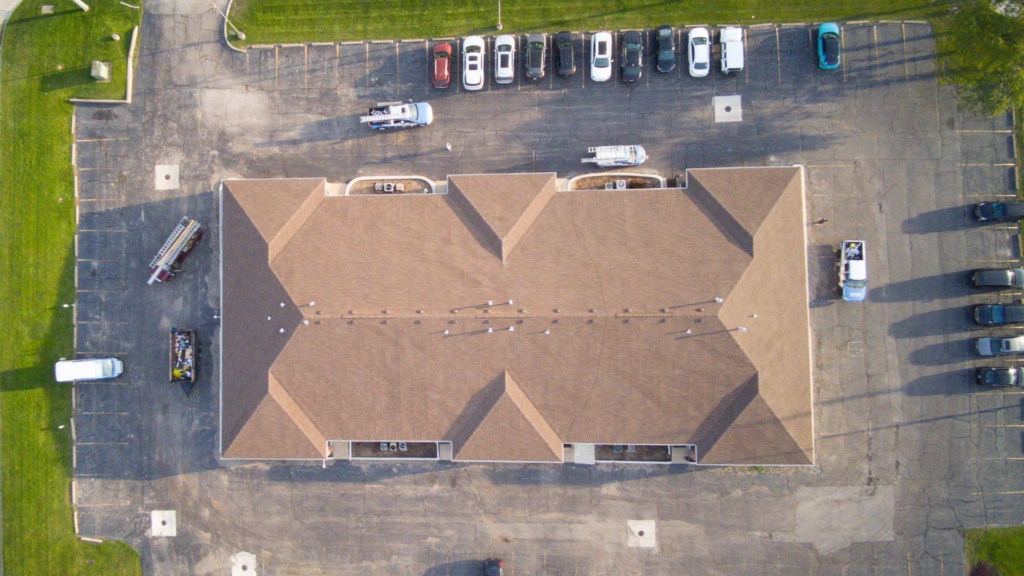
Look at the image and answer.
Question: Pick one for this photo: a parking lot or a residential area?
parking lot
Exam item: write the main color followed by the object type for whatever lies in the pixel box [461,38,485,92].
white car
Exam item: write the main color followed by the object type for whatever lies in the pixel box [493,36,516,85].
white car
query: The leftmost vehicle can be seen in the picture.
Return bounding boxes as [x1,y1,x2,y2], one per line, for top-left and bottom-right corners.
[54,357,124,382]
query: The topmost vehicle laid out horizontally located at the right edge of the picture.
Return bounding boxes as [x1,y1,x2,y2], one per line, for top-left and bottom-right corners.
[971,199,1024,224]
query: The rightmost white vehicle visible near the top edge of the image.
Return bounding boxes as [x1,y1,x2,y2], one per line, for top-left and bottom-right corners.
[686,28,712,79]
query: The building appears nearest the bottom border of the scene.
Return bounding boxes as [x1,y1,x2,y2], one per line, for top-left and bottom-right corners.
[219,164,817,466]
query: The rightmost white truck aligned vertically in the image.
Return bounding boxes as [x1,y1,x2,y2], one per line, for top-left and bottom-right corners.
[840,239,871,302]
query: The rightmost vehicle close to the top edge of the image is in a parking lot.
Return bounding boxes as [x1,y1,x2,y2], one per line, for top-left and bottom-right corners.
[814,24,842,72]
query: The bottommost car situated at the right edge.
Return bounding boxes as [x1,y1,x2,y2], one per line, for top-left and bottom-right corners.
[974,365,1024,389]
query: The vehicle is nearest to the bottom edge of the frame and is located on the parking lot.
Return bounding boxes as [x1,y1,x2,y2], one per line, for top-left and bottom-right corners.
[484,555,504,576]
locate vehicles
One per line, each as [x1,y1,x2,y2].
[524,34,548,83]
[974,334,1024,359]
[972,302,1024,328]
[461,38,485,92]
[620,32,645,84]
[493,36,516,85]
[970,265,1024,290]
[974,365,1024,389]
[54,357,124,382]
[686,28,712,79]
[814,24,842,72]
[369,96,433,131]
[156,223,209,283]
[554,32,578,79]
[840,239,871,302]
[589,31,614,84]
[430,44,452,90]
[971,199,1024,224]
[484,555,504,576]
[594,143,647,171]
[654,25,678,75]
